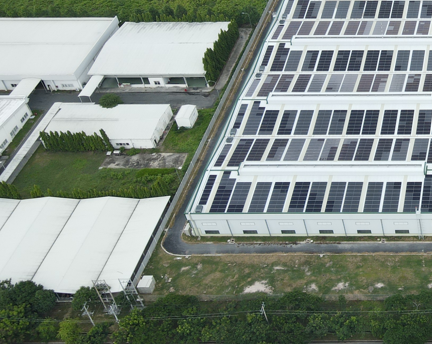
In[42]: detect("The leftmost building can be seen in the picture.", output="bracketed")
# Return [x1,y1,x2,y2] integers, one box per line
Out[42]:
[0,96,32,155]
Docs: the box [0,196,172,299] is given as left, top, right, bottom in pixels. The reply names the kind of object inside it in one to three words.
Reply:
shed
